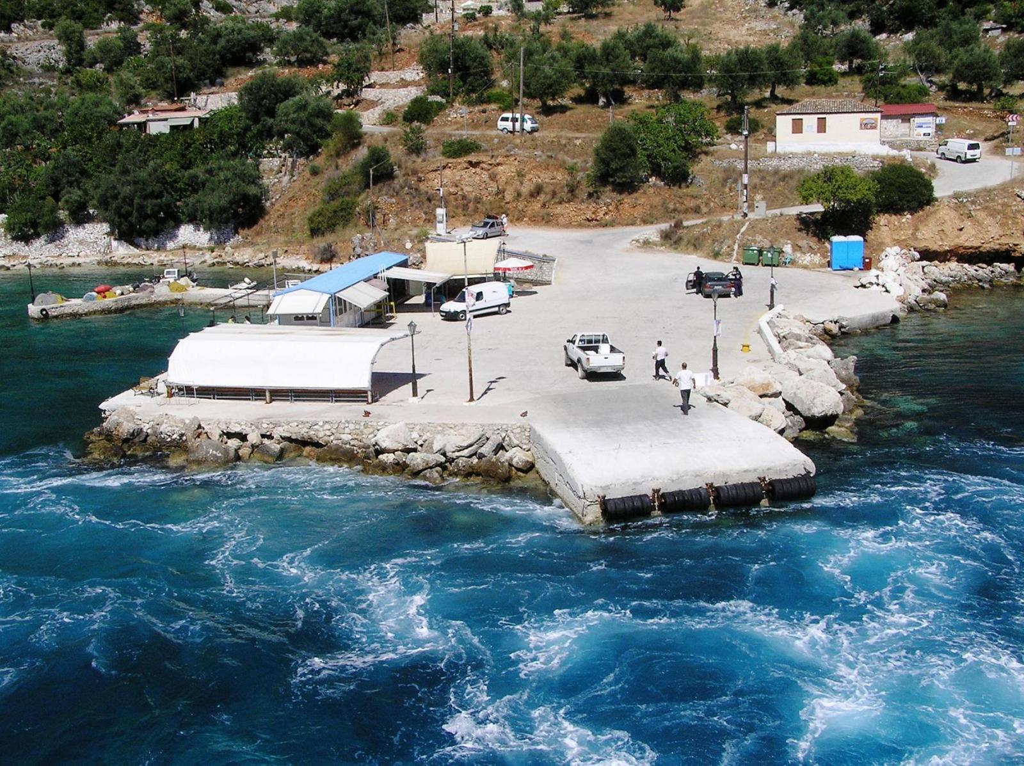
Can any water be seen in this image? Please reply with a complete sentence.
Yes, the picture does contain water.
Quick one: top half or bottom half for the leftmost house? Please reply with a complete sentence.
The top half of the photo is where the leftmost house is.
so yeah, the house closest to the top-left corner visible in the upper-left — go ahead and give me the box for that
[118,100,211,135]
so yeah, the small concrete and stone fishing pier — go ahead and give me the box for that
[28,284,289,326]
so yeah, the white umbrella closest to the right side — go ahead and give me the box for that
[497,250,536,285]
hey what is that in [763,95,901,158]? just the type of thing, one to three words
house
